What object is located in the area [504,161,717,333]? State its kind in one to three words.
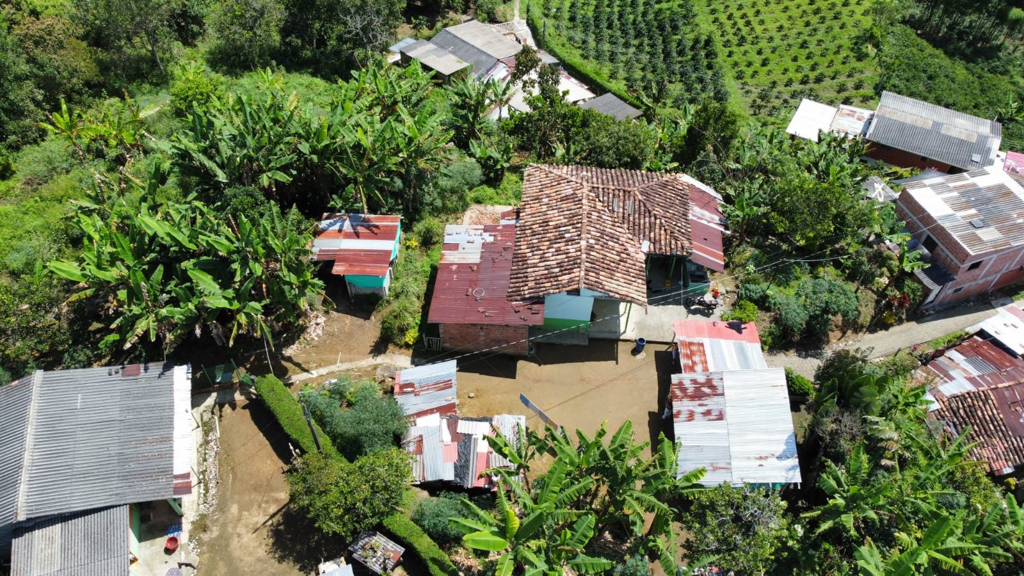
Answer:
house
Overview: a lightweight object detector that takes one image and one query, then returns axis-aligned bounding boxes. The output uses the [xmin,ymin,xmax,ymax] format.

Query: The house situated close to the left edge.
[0,363,200,576]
